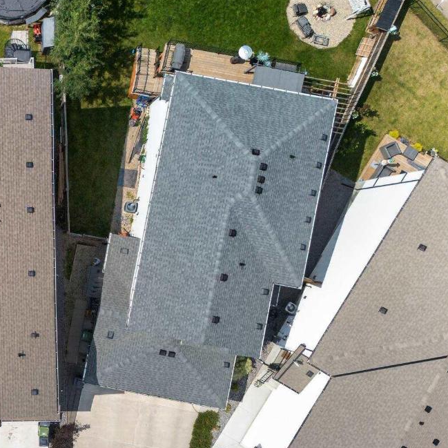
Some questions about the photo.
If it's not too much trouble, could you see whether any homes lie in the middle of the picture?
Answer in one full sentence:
Yes, looking in the middle of the picture, one can make out a home.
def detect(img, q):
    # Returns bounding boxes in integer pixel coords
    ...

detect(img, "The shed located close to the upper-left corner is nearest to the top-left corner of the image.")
[42,16,55,54]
